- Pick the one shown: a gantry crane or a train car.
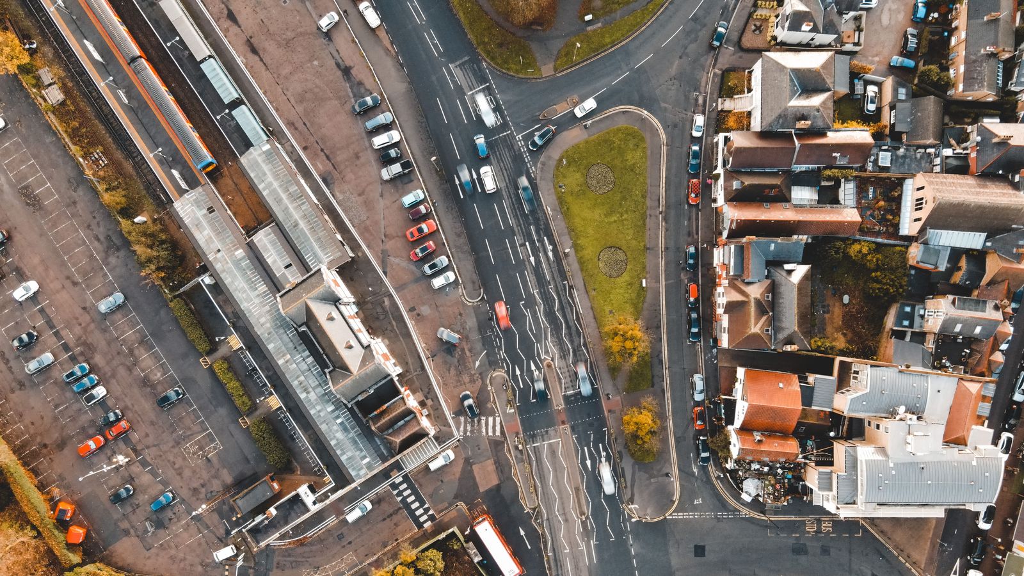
train car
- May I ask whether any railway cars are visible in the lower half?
No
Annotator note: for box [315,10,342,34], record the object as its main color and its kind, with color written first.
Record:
white car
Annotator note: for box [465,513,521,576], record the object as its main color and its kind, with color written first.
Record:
white bus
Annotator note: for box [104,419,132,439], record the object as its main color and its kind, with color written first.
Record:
red car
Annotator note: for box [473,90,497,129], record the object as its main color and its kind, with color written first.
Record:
white vehicle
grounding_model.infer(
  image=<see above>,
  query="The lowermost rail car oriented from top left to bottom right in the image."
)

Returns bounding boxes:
[132,54,222,170]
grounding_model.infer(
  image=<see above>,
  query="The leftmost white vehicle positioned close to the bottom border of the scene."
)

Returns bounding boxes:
[208,541,241,565]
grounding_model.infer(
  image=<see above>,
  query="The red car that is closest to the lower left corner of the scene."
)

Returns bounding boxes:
[77,436,106,456]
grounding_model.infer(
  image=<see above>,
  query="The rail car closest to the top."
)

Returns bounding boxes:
[90,0,152,62]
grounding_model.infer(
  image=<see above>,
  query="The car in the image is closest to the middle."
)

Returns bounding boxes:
[495,301,510,328]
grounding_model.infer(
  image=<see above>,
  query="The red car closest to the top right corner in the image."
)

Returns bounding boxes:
[687,177,701,204]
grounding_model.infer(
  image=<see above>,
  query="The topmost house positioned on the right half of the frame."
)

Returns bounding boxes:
[766,0,861,44]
